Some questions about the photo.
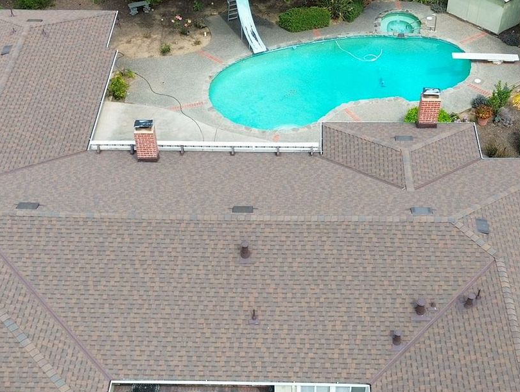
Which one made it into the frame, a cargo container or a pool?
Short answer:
pool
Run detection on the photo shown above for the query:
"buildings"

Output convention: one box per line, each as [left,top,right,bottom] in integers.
[448,0,520,33]
[0,5,520,392]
